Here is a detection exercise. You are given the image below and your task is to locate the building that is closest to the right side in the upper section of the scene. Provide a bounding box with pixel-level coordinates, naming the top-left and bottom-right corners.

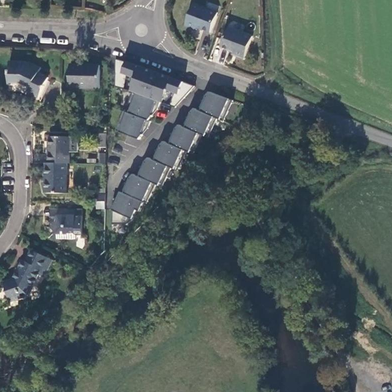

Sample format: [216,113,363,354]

[221,28,255,60]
